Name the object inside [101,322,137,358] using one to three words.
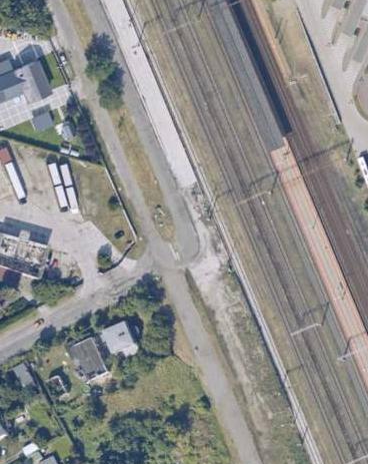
house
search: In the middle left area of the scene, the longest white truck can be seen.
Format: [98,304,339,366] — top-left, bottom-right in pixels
[5,161,29,206]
